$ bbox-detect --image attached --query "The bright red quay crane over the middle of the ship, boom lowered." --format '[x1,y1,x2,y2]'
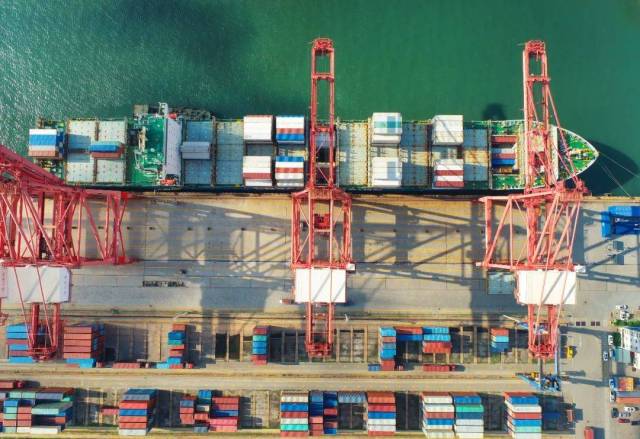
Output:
[282,36,359,361]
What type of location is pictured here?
port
